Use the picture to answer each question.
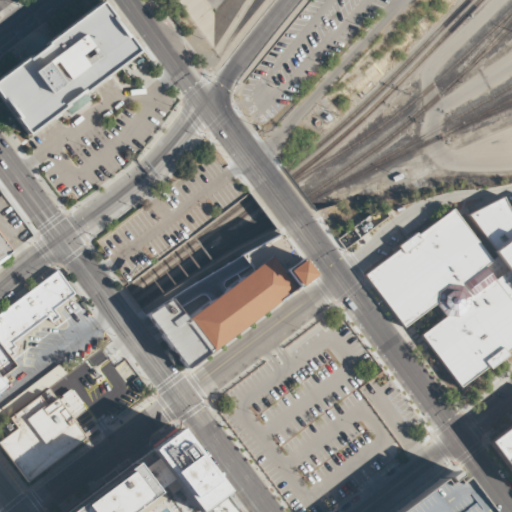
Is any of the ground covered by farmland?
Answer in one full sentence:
No, farmland can't be seen anywhere here.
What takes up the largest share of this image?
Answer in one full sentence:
What you mostly see from above here is paved ground.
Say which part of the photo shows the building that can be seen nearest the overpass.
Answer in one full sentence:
The building that can be seen nearest the overpass is in the center part of the image.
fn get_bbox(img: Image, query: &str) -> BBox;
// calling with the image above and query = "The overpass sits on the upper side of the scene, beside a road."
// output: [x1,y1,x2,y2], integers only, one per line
[245,161,320,228]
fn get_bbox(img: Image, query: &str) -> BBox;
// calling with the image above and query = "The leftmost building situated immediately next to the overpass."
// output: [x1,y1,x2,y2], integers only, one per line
[152,236,322,366]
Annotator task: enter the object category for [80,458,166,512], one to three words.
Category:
building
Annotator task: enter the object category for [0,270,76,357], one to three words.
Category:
building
